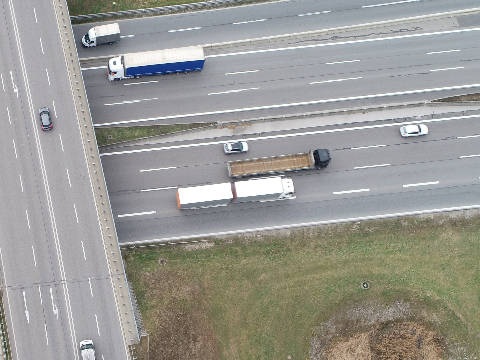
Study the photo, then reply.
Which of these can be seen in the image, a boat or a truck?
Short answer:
truck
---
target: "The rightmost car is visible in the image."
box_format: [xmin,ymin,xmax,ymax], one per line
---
[400,122,429,137]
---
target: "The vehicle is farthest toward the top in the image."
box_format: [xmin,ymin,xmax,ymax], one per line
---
[82,24,120,47]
